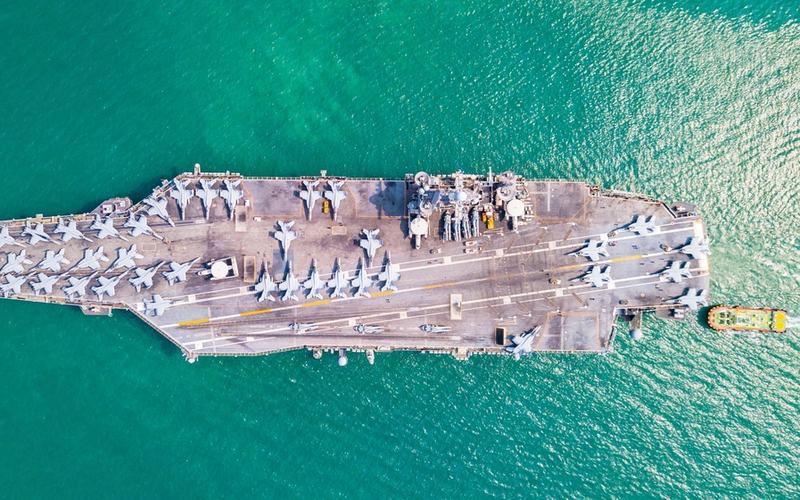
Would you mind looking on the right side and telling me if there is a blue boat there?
No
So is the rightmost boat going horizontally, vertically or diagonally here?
horizontally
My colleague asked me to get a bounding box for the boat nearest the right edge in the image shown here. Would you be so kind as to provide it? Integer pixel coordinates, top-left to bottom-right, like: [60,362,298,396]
[706,305,788,333]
